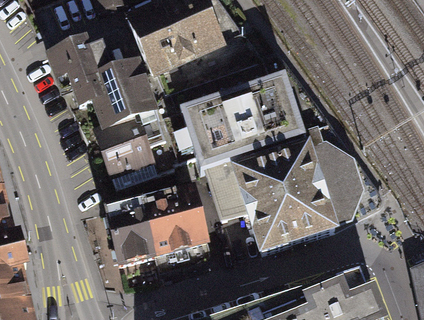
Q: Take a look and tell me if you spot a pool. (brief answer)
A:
No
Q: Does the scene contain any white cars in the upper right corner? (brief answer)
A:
No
